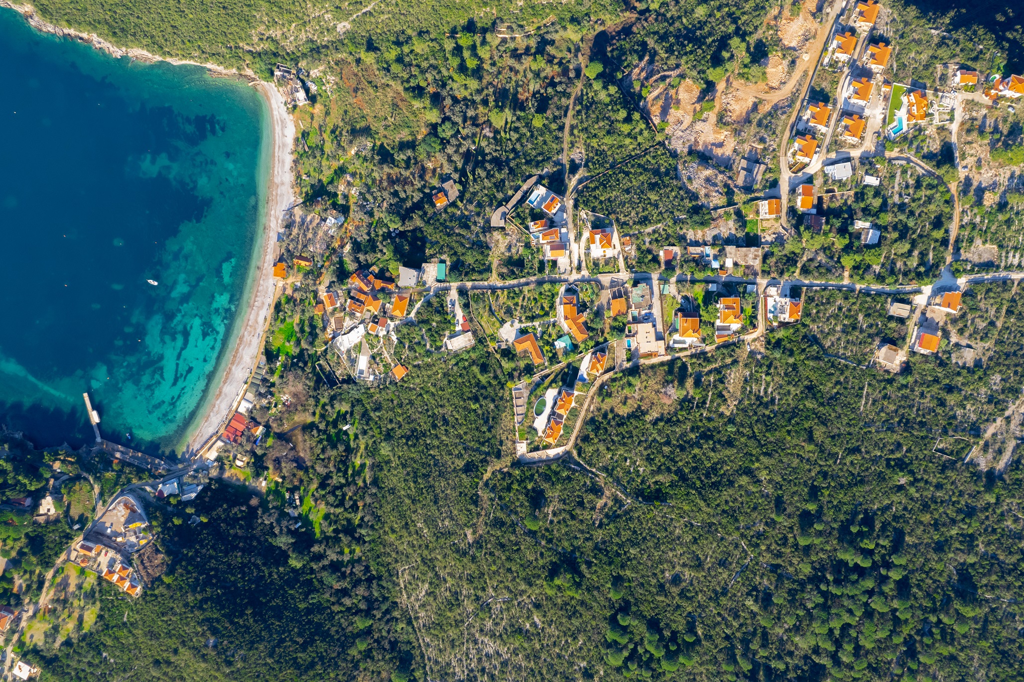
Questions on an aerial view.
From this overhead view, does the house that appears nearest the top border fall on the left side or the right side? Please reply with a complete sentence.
The house that appears nearest the top border is on the right side of the image.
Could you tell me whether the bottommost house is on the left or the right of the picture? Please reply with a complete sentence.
The bottommost house sits on the left side.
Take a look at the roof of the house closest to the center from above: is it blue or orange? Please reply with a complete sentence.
The roof of the house closest to the center is orange.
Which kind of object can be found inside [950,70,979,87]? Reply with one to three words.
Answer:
house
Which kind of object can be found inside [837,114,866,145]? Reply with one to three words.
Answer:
house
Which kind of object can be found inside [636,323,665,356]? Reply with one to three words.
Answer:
building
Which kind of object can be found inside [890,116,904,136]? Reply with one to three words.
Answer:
swimming pool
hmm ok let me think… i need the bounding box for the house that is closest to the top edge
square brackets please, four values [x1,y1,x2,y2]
[844,0,880,34]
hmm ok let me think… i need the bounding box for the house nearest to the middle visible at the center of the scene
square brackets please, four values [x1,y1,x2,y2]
[513,335,543,365]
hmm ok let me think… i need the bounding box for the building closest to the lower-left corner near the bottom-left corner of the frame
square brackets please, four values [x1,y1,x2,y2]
[13,659,36,680]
